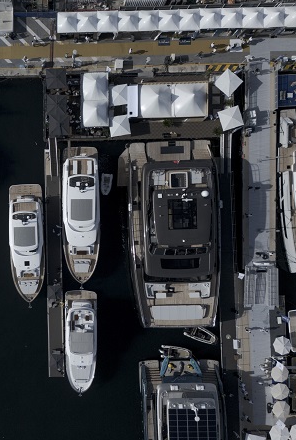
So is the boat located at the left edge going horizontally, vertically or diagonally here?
vertically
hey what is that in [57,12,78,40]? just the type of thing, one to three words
tent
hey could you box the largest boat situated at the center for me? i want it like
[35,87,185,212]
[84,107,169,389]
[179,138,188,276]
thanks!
[117,141,224,329]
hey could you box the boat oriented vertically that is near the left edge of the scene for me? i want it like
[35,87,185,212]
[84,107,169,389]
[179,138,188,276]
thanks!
[9,184,45,310]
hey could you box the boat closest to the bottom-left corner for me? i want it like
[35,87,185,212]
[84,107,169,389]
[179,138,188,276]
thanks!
[62,290,97,400]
